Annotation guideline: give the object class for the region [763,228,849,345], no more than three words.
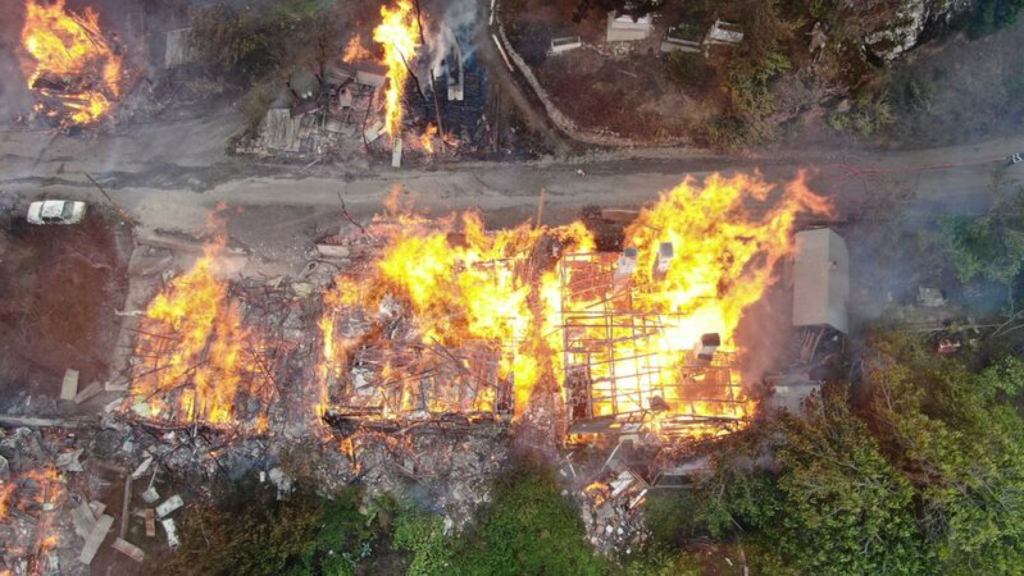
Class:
shed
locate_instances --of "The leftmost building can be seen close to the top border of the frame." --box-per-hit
[19,10,120,115]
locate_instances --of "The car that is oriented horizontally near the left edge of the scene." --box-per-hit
[21,198,88,227]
